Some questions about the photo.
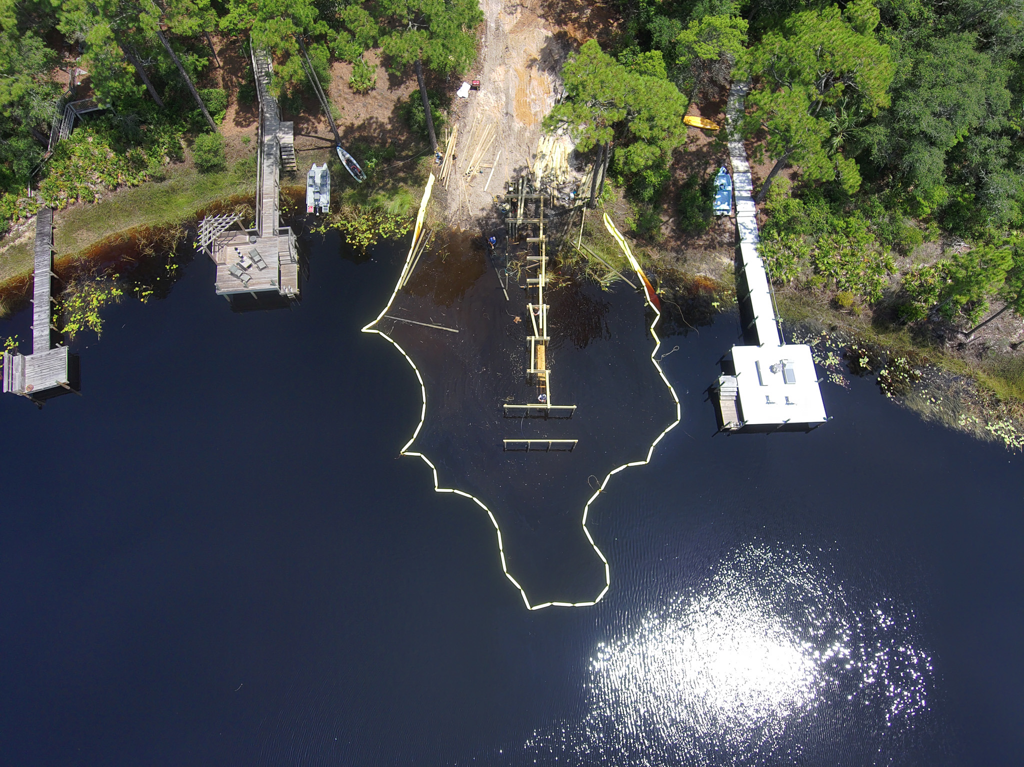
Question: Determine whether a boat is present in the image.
Yes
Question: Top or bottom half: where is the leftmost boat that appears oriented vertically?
top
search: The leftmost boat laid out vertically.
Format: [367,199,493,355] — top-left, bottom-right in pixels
[305,160,330,215]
